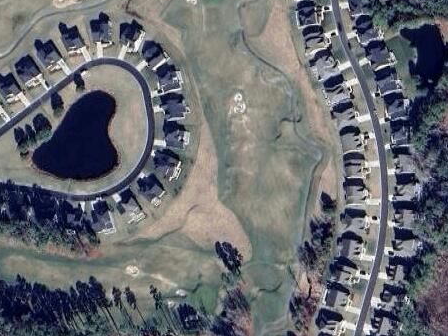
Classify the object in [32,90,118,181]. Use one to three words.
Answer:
pond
